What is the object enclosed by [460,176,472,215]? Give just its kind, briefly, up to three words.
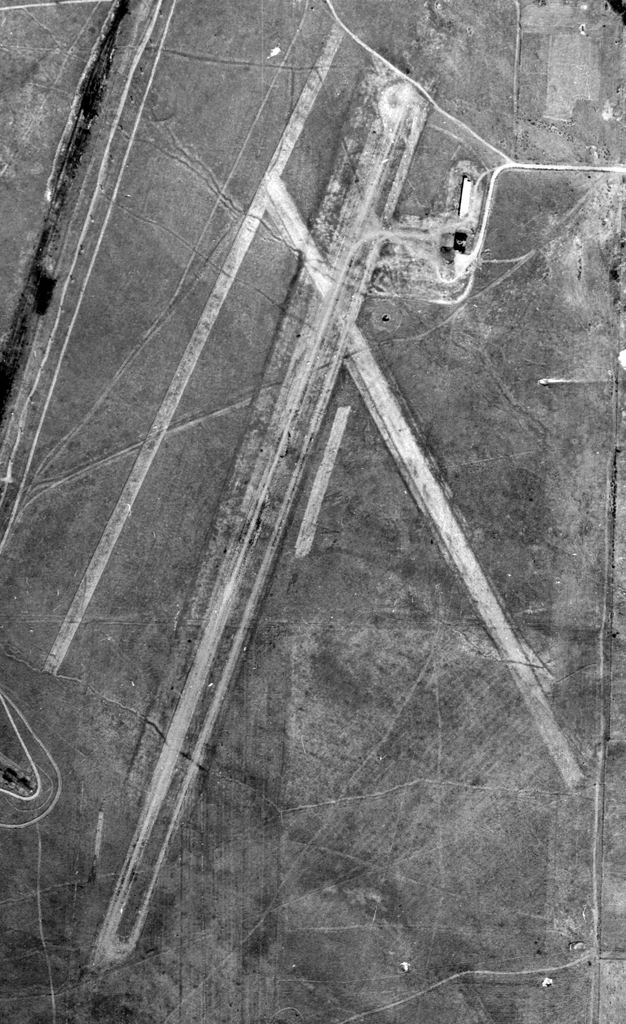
hangar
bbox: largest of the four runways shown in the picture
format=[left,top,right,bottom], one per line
[93,79,428,963]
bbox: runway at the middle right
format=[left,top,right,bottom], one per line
[349,324,587,789]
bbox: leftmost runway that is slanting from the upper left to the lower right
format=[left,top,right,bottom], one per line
[260,173,334,293]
